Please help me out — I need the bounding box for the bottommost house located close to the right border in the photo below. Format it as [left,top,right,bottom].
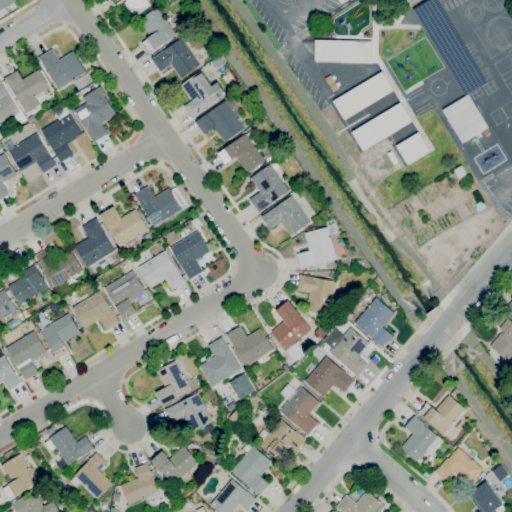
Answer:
[472,482,508,512]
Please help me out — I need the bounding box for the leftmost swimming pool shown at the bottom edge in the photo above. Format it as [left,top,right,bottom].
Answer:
[203,477,218,495]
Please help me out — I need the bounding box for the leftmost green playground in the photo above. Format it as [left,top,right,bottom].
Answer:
[336,4,370,34]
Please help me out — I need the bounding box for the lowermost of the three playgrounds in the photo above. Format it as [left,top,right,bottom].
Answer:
[474,144,508,174]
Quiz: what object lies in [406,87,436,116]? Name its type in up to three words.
sports court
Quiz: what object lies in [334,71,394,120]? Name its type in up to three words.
building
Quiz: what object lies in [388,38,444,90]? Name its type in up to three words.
playground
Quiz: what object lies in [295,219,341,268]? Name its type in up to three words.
house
